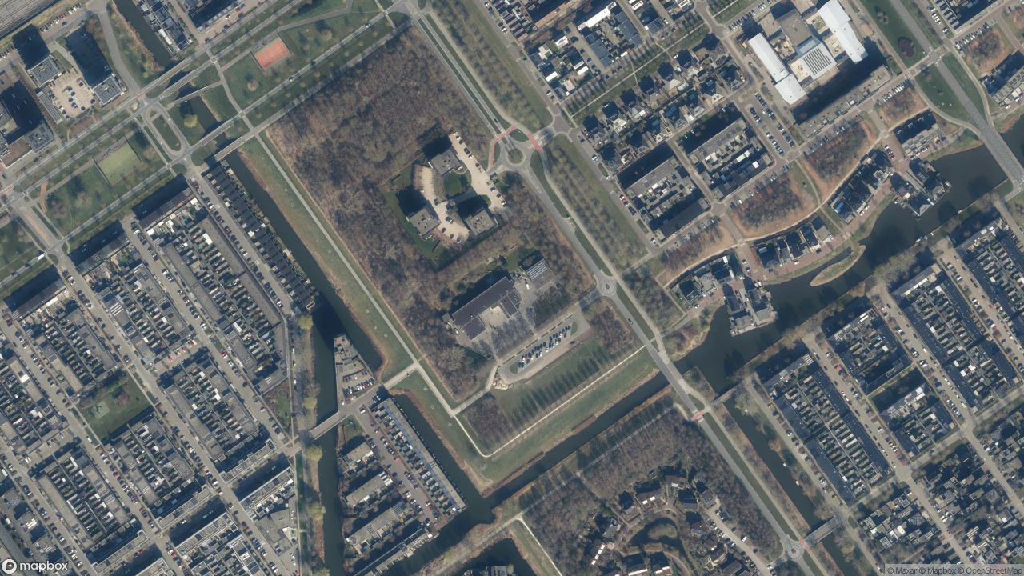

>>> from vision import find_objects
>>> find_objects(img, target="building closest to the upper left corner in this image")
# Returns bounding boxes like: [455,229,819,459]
[27,54,61,87]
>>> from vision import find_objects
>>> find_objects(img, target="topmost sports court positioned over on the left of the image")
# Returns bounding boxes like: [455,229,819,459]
[255,38,289,69]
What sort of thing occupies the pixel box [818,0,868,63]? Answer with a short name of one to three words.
building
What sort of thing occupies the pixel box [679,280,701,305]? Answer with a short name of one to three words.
house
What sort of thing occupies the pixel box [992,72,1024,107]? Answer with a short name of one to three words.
building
